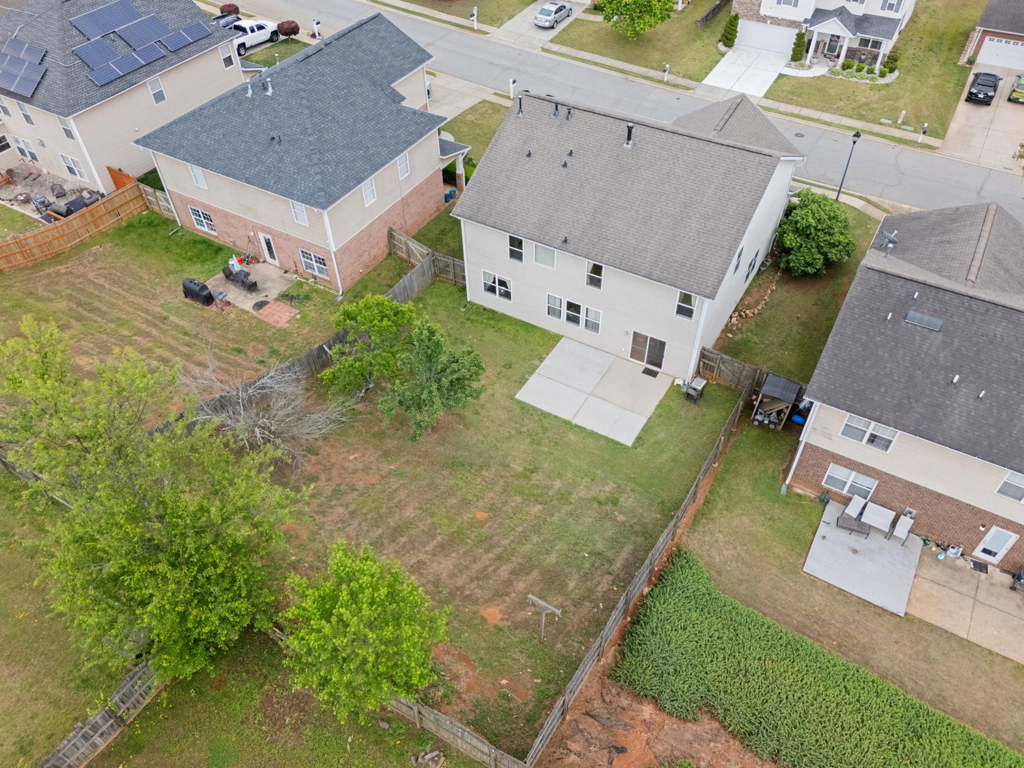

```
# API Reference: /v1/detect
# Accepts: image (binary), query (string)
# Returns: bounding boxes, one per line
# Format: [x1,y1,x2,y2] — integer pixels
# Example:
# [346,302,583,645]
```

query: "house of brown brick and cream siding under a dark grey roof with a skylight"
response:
[782,200,1024,576]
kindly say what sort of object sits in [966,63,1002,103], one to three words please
car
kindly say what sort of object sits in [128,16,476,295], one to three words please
house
